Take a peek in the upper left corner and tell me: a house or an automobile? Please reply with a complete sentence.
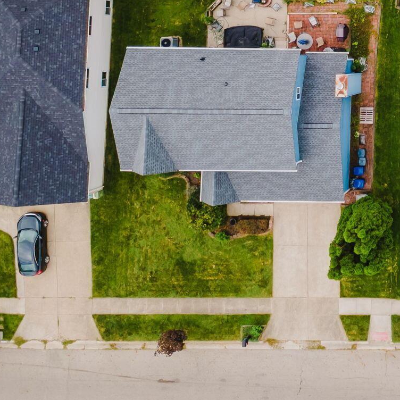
What appears in the upper left corner is a house.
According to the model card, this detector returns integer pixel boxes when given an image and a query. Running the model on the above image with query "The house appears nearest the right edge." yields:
[111,46,363,205]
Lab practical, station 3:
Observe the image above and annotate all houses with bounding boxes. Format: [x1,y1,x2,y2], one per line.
[111,46,363,205]
[0,0,113,205]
